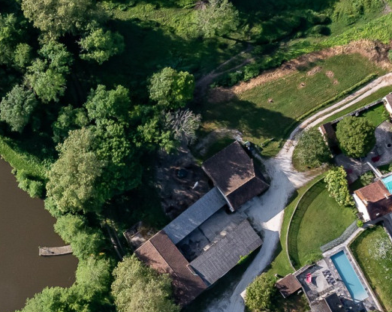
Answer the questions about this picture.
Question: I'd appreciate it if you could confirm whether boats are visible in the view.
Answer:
No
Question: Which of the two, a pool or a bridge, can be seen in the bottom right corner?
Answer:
pool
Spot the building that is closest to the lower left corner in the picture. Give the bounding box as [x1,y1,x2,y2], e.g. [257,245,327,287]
[134,230,208,306]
